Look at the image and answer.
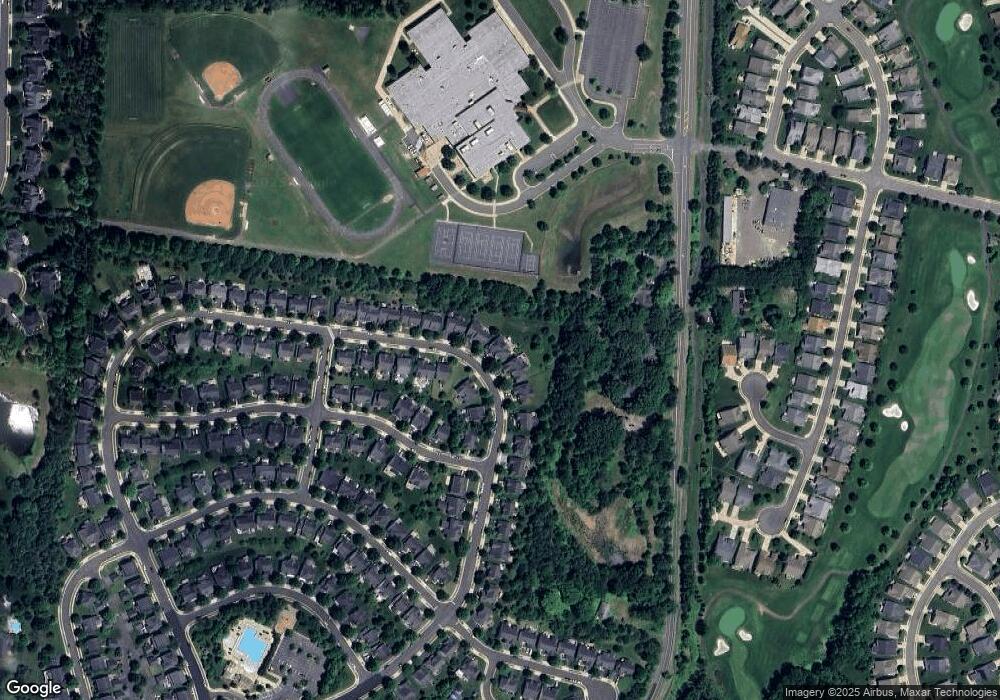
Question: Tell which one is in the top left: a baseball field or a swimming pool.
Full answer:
The feature located in the top left is a baseball field.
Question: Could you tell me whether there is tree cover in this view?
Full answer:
Yes, the picture does contain tree cover.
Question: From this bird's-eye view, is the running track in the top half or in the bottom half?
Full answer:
The running track is in the top half of the image.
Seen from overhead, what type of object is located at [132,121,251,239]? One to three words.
baseball field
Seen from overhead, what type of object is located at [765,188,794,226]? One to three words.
building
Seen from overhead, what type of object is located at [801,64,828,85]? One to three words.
house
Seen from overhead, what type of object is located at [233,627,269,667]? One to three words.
swimming pool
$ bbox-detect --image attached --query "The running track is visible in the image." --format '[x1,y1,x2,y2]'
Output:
[258,66,405,240]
